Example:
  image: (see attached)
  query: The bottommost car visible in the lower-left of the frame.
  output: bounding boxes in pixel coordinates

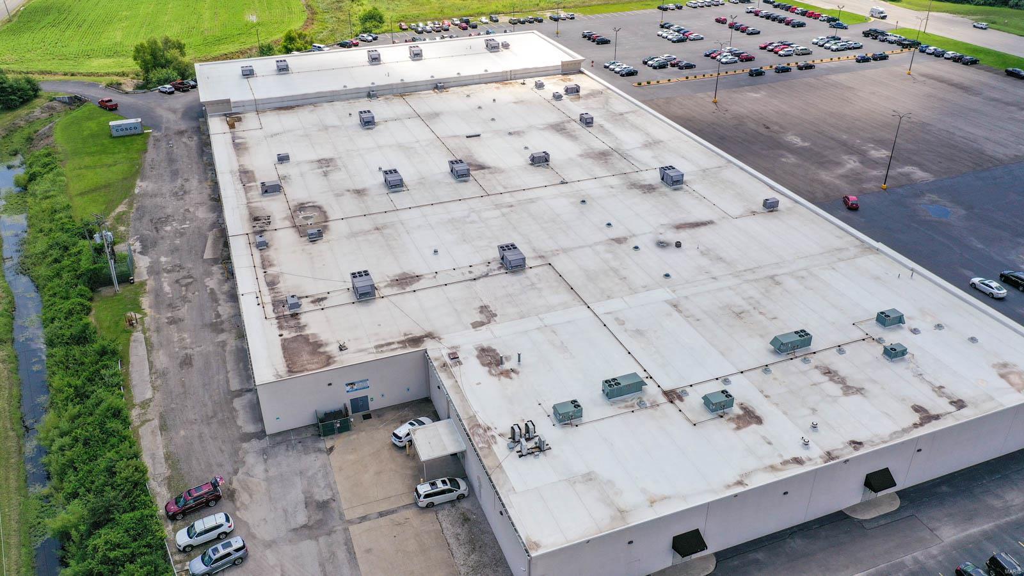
[183,531,250,576]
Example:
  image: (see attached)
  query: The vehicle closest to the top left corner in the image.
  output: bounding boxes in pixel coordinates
[97,96,119,109]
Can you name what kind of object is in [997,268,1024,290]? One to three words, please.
car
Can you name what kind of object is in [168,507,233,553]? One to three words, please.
car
